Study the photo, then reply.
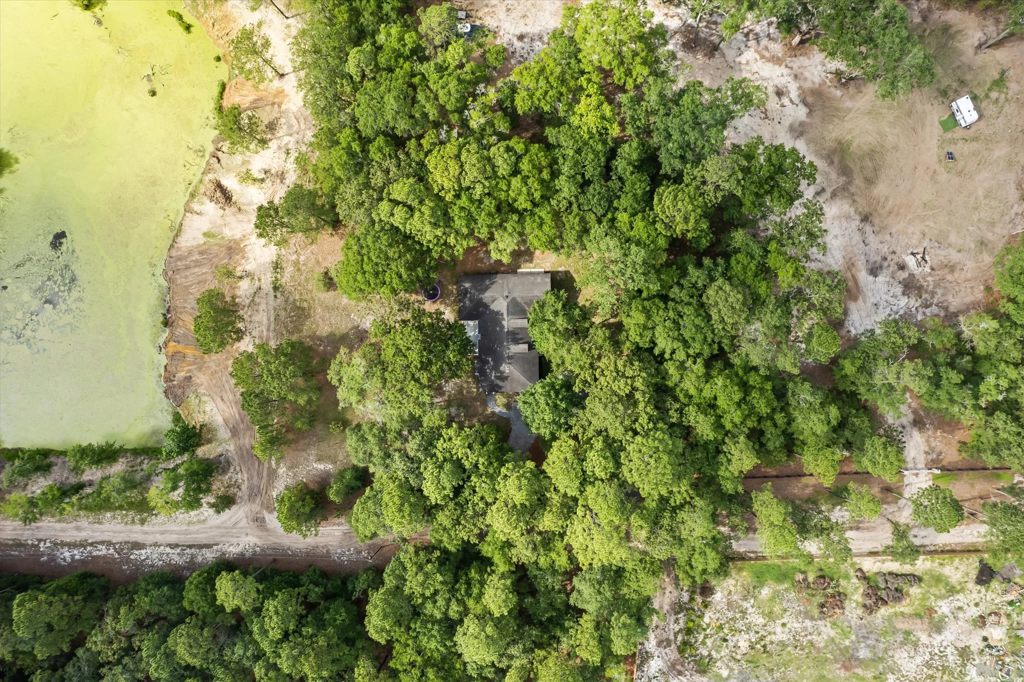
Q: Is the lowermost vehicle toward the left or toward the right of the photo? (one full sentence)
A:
The lowermost vehicle appears in the right half of the scene.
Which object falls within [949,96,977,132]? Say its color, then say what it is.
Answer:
white vehicle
